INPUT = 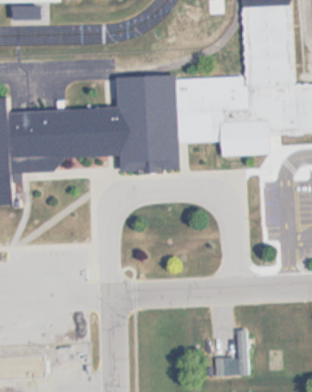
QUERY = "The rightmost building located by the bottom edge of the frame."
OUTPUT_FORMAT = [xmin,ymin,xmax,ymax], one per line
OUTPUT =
[216,328,252,377]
